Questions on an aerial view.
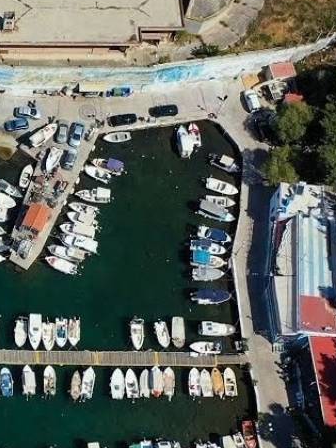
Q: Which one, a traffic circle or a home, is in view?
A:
home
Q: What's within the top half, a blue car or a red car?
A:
blue car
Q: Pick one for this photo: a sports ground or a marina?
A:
marina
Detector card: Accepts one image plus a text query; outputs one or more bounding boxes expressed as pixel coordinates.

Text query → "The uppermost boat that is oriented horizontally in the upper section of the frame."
[96,132,131,145]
